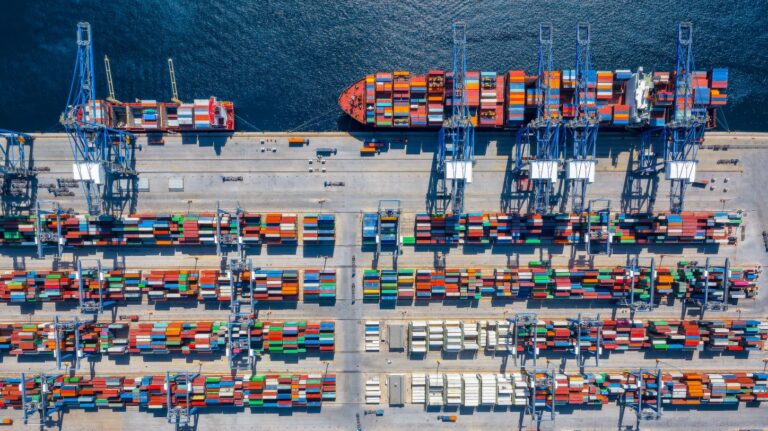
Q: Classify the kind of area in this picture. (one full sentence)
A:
What you see here is a port.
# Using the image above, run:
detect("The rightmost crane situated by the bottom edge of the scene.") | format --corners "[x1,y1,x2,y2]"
[624,371,664,427]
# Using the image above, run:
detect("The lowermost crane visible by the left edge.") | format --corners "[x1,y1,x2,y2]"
[20,371,63,427]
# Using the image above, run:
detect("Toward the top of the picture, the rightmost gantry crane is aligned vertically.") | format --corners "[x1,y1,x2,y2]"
[629,22,712,215]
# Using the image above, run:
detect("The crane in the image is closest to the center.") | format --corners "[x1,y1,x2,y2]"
[374,200,404,256]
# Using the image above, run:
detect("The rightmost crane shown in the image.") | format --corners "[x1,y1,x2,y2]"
[688,259,731,314]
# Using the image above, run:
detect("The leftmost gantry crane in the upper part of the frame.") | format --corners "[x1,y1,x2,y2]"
[0,129,35,172]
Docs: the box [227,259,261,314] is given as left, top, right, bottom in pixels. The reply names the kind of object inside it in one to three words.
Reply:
crane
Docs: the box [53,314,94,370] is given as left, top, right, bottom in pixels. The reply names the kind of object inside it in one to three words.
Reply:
crane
